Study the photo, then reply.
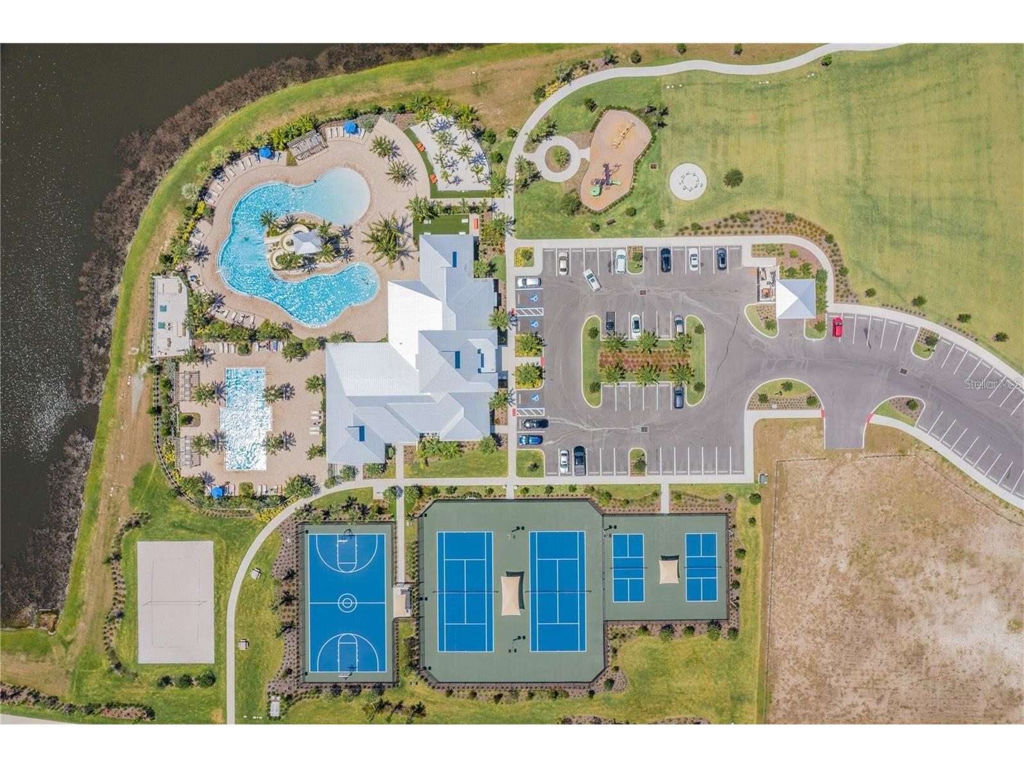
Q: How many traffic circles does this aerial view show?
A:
0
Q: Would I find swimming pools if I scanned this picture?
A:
Yes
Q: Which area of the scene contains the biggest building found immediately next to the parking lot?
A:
center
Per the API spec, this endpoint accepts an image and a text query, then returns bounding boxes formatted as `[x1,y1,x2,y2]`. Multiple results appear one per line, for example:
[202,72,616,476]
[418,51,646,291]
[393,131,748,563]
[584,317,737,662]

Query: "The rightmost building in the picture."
[771,279,816,319]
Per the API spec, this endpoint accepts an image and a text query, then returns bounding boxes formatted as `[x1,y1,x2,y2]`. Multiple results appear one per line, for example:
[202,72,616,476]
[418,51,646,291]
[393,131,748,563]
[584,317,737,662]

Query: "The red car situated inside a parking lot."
[831,316,845,339]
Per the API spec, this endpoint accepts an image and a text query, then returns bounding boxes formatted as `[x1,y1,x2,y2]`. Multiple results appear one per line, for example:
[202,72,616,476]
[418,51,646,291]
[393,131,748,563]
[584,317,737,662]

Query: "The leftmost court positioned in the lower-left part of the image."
[138,541,214,664]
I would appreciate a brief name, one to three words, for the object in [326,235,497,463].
building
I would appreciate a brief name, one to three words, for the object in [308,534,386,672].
basketball court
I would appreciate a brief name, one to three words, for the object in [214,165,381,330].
swimming pool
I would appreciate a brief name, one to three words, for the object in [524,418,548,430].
vehicle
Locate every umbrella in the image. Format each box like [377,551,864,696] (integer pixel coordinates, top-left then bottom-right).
[344,121,356,133]
[260,146,272,159]
[212,485,224,498]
